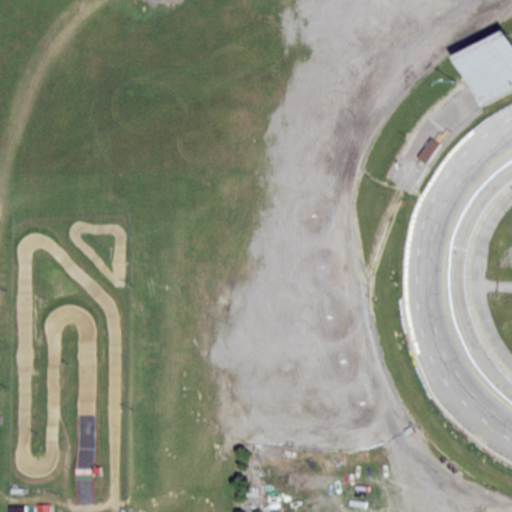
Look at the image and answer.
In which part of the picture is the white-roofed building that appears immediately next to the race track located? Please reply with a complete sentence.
The white-roofed building that appears immediately next to the race track sits in the top right section of the image.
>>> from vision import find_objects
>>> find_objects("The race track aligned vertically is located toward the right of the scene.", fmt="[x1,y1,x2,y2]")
[408,104,512,460]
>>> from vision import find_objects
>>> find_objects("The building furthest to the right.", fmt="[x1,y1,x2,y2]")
[450,30,512,110]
